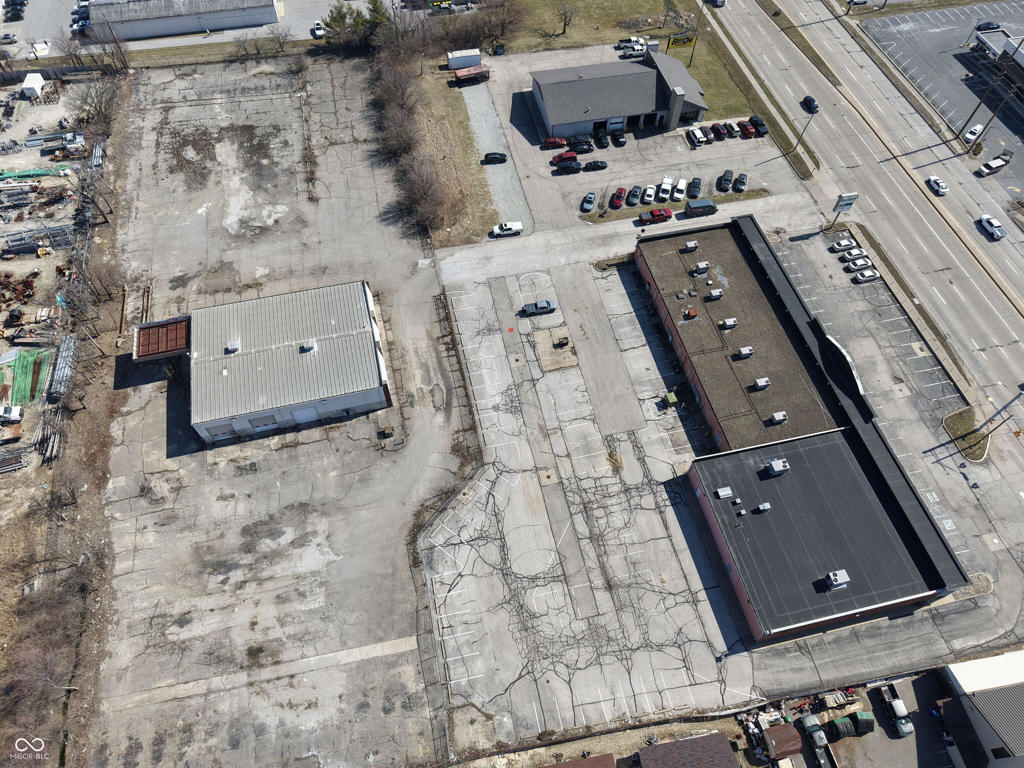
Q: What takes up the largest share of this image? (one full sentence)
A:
The scene is dominated by paved ground.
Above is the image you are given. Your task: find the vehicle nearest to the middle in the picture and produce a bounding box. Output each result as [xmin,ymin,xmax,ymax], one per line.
[523,299,558,316]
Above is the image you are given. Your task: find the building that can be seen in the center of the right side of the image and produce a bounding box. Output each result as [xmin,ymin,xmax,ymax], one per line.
[634,211,975,642]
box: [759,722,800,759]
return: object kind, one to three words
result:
shed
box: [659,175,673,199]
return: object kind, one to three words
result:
vehicle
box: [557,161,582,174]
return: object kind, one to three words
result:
vehicle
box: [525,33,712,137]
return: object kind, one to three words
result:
building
